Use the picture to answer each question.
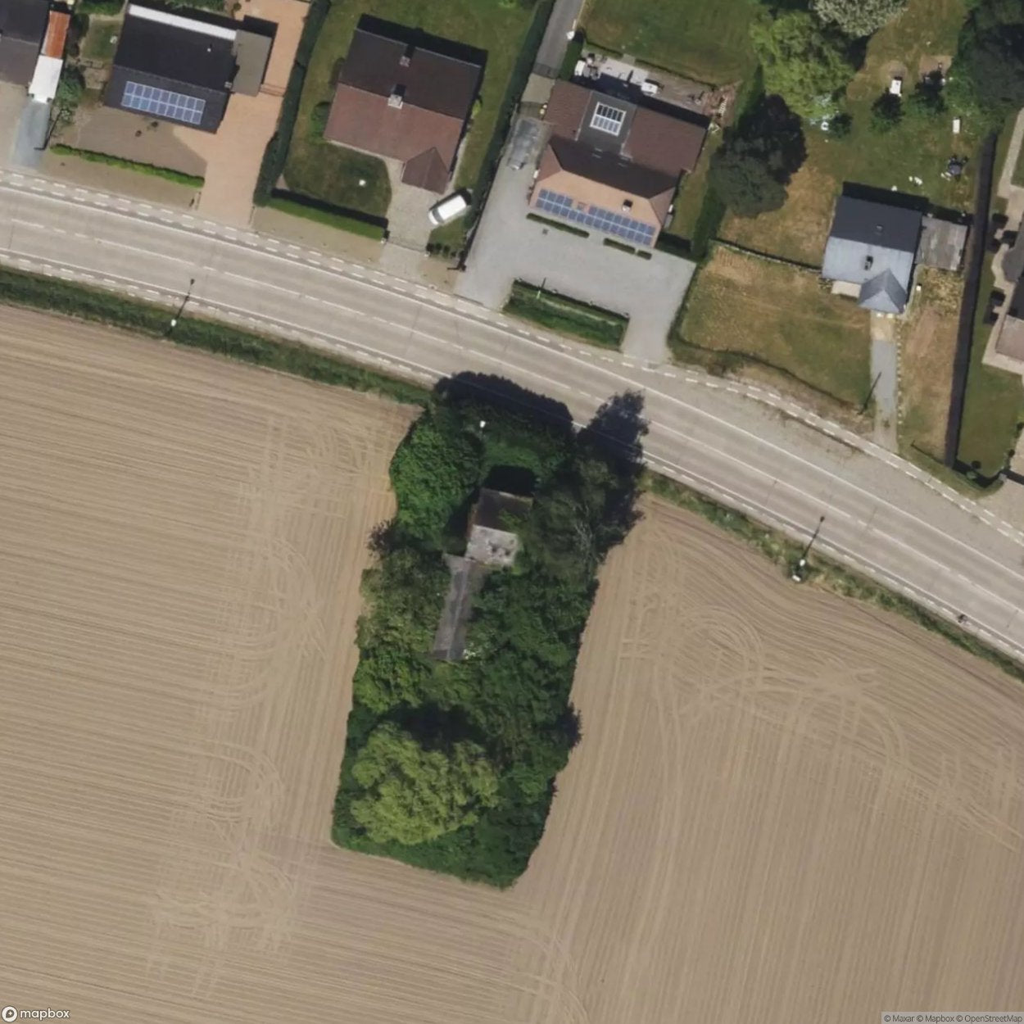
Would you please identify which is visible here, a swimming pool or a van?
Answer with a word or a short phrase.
van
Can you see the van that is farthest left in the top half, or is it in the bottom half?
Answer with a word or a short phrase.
top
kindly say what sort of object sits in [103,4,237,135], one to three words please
house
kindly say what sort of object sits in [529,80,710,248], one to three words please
house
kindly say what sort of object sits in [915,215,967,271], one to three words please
shed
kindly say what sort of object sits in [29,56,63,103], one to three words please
shed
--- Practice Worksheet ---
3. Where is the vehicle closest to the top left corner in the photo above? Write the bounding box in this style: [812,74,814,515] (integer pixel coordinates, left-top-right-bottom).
[428,191,470,224]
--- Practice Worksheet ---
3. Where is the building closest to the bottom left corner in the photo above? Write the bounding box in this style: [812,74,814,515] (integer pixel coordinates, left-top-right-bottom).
[435,554,491,662]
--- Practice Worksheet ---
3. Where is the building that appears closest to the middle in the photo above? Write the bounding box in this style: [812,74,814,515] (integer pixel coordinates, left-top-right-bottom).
[463,489,533,572]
